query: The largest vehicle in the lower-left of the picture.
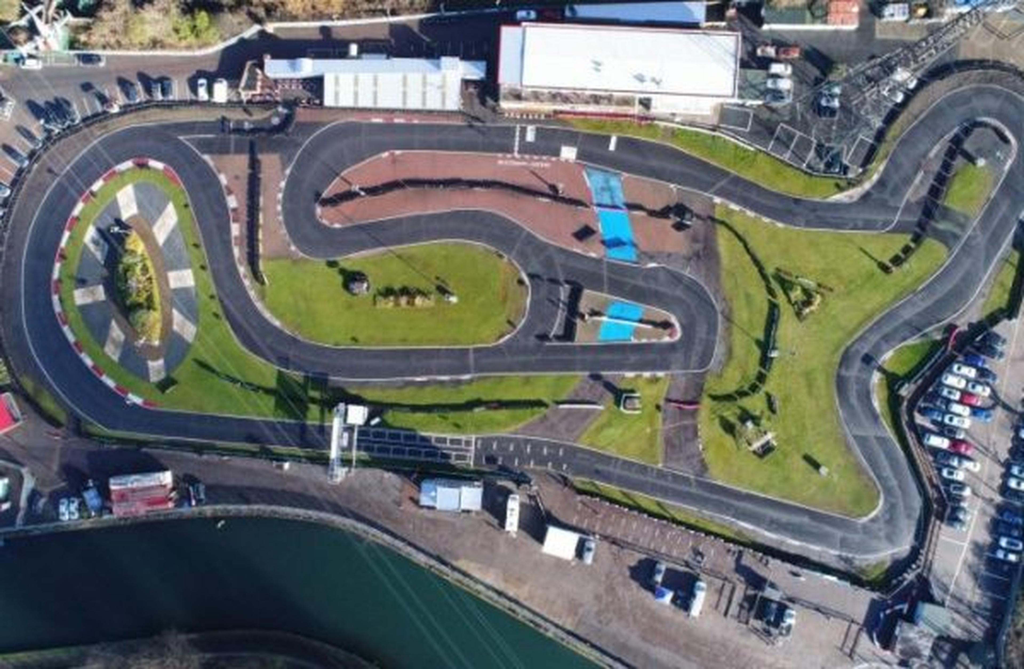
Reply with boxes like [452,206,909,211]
[74,480,101,520]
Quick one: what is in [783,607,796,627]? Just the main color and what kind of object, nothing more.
white vehicle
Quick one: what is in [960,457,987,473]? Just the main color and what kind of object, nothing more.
white car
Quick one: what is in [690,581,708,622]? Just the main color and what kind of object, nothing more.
white vehicle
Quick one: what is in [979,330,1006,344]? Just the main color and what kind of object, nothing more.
black car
